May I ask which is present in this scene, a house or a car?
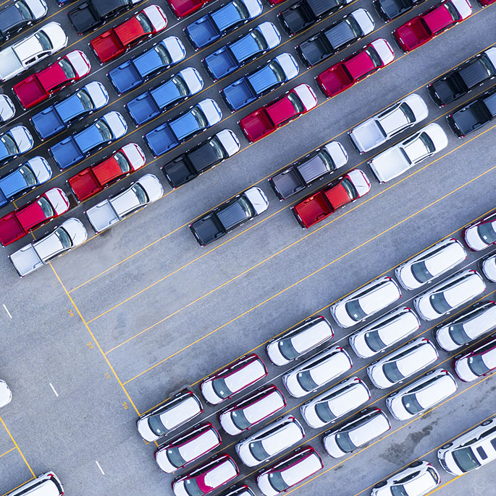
car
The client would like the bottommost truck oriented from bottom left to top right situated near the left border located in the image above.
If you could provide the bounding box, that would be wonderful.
[8,222,84,278]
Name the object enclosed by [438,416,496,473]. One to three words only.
van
